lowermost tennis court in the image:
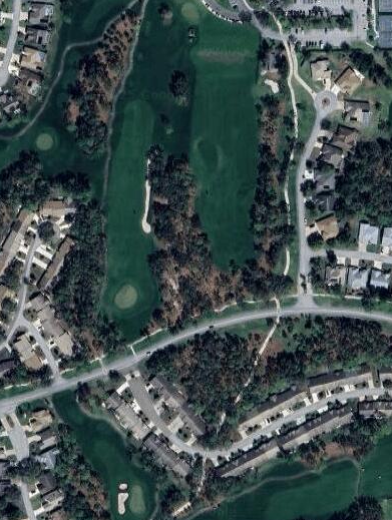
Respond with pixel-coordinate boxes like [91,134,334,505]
[378,16,392,49]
